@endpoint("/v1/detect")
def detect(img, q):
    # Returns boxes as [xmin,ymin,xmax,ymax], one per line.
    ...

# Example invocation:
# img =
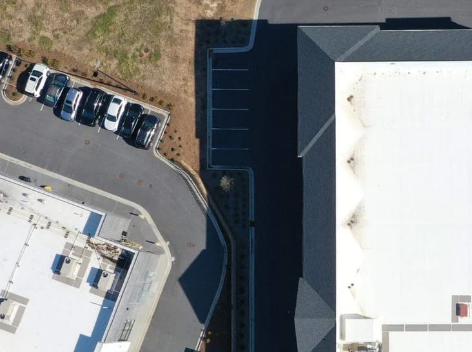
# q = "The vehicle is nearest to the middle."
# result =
[134,114,160,150]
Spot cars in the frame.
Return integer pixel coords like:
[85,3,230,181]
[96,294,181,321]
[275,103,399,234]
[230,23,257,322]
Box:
[45,73,70,109]
[0,50,9,81]
[25,63,50,97]
[119,104,143,139]
[134,114,160,150]
[104,95,128,131]
[83,89,108,125]
[60,85,85,122]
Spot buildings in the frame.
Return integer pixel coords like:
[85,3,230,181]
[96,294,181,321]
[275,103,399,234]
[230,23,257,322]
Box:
[293,24,472,352]
[0,170,160,352]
